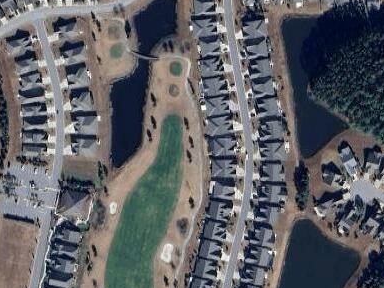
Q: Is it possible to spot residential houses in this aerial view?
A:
Yes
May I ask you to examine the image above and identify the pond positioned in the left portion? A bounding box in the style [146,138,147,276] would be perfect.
[109,0,178,166]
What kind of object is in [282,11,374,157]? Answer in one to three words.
pond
